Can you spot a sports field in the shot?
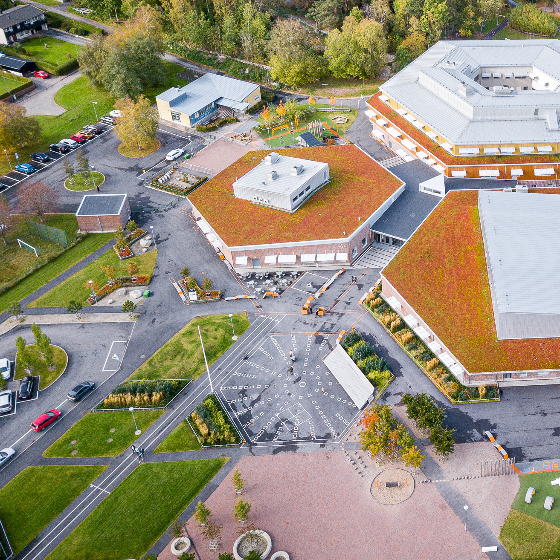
Yes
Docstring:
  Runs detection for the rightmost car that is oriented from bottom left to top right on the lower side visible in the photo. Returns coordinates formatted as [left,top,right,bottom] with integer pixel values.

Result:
[64,379,96,403]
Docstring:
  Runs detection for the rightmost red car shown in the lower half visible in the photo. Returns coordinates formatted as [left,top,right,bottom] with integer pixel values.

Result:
[28,408,64,434]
